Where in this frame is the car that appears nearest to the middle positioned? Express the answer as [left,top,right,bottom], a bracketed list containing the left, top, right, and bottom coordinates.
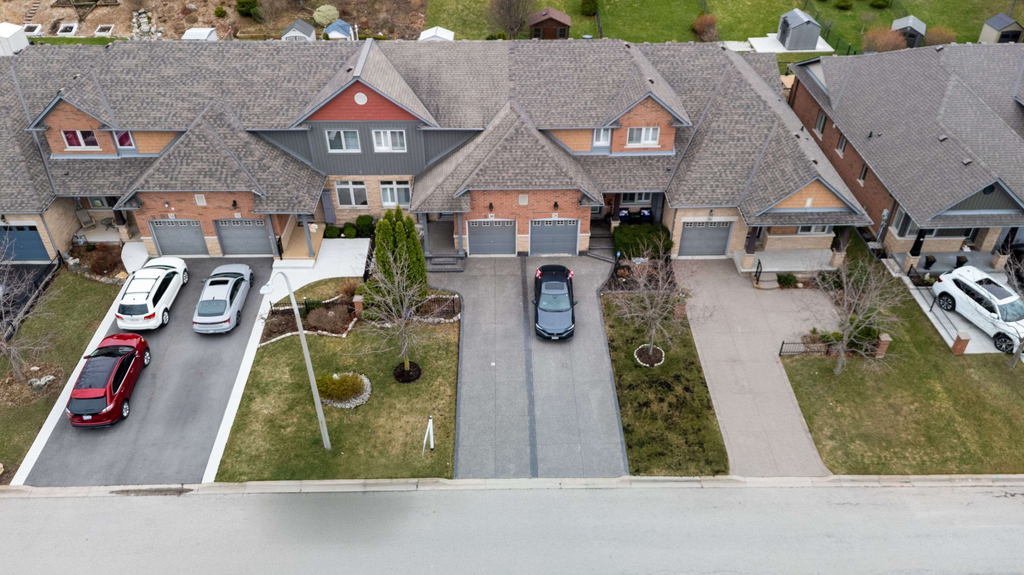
[530,265,580,339]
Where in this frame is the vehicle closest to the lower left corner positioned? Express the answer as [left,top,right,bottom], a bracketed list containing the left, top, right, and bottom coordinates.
[68,334,151,422]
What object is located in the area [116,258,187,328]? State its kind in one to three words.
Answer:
car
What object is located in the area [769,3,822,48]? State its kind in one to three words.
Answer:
shed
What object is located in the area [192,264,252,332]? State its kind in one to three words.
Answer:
car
